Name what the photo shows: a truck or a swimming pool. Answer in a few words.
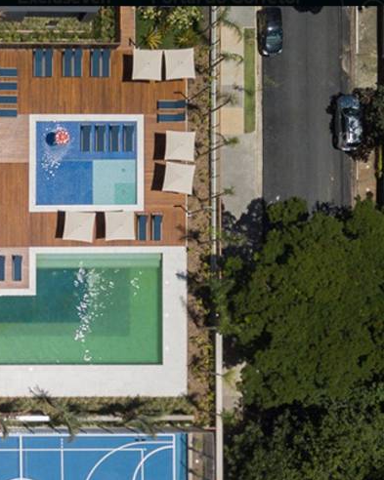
swimming pool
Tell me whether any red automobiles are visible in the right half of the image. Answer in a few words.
No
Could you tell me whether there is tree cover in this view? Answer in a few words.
Yes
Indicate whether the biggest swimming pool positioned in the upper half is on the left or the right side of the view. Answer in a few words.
left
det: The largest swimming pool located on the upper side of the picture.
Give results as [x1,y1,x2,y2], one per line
[30,114,144,210]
